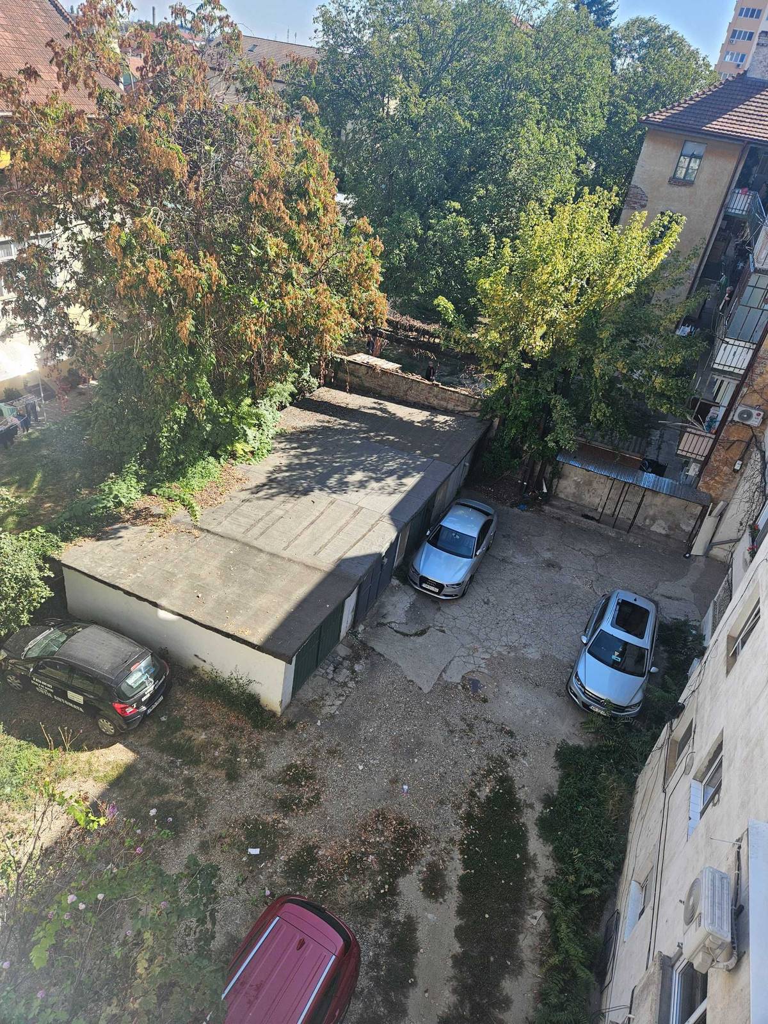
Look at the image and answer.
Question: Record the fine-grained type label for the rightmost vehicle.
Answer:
automobile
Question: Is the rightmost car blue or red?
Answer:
blue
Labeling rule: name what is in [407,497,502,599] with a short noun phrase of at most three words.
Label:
car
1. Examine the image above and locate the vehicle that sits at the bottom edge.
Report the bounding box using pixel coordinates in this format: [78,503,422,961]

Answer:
[196,905,367,1024]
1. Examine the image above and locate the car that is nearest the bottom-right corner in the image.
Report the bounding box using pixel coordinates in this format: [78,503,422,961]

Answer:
[561,582,656,717]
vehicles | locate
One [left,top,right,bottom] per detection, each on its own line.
[407,497,502,599]
[0,617,178,737]
[561,582,656,717]
[196,905,367,1024]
